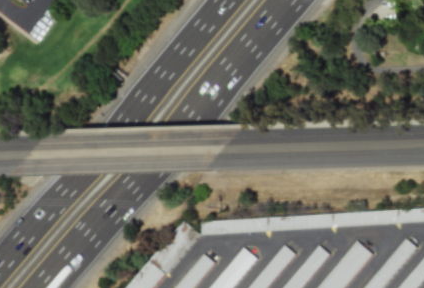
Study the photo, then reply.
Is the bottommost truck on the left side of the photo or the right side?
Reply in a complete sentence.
It is on the left.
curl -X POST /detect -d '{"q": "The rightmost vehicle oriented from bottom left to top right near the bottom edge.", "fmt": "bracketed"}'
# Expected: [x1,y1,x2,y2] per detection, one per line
[48,254,84,288]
